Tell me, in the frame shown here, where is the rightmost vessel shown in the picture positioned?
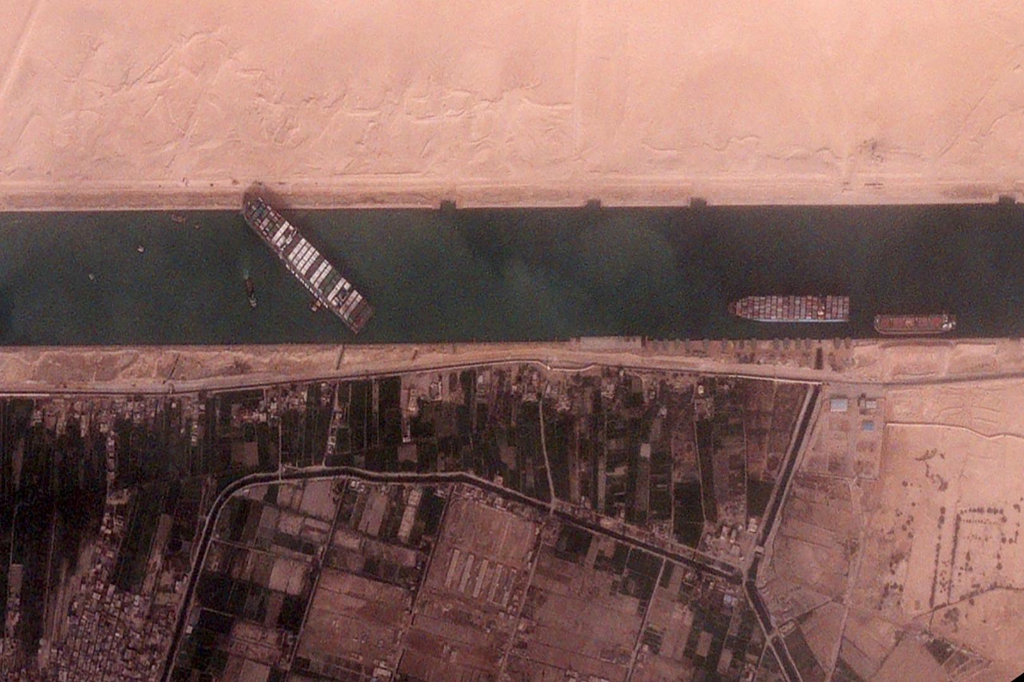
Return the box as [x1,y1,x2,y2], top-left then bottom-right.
[874,315,956,334]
